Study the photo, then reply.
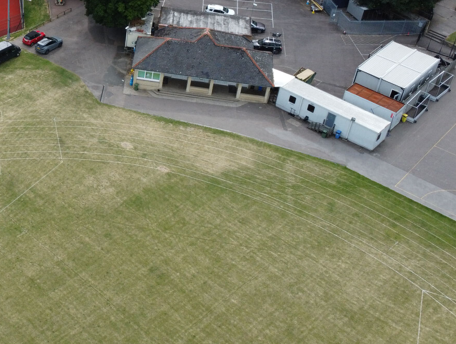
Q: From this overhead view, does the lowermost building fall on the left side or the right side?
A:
right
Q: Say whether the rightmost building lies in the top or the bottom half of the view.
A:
top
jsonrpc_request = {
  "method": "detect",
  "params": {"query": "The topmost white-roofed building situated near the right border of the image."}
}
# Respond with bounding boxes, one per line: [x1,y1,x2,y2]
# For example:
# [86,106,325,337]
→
[354,40,445,109]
